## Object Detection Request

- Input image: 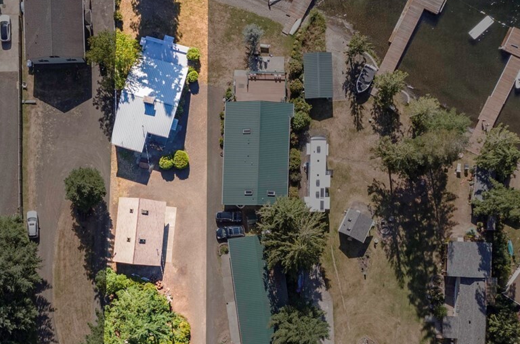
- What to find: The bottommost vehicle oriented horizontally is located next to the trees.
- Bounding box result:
[217,225,245,239]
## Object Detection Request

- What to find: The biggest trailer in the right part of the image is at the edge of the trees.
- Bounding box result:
[302,135,331,211]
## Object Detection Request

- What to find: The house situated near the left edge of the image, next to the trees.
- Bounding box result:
[23,0,92,64]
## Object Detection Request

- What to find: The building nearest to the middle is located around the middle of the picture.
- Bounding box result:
[222,101,295,209]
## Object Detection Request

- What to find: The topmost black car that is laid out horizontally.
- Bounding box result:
[215,212,243,224]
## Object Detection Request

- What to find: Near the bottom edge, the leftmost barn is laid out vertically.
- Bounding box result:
[225,236,275,344]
